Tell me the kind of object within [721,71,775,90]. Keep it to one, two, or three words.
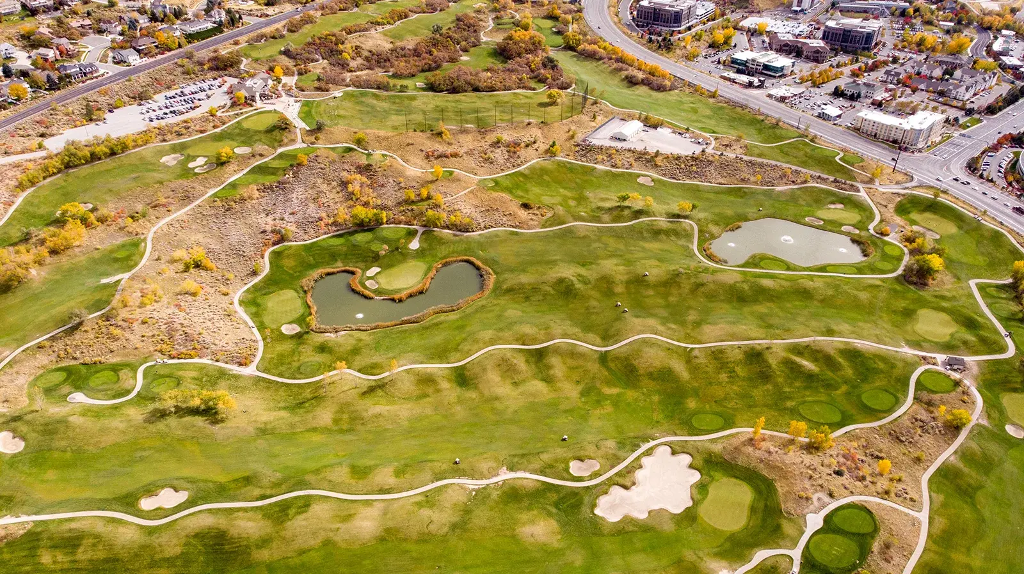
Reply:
building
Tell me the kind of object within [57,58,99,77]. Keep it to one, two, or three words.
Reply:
house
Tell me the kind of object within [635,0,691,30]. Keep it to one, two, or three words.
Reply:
building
